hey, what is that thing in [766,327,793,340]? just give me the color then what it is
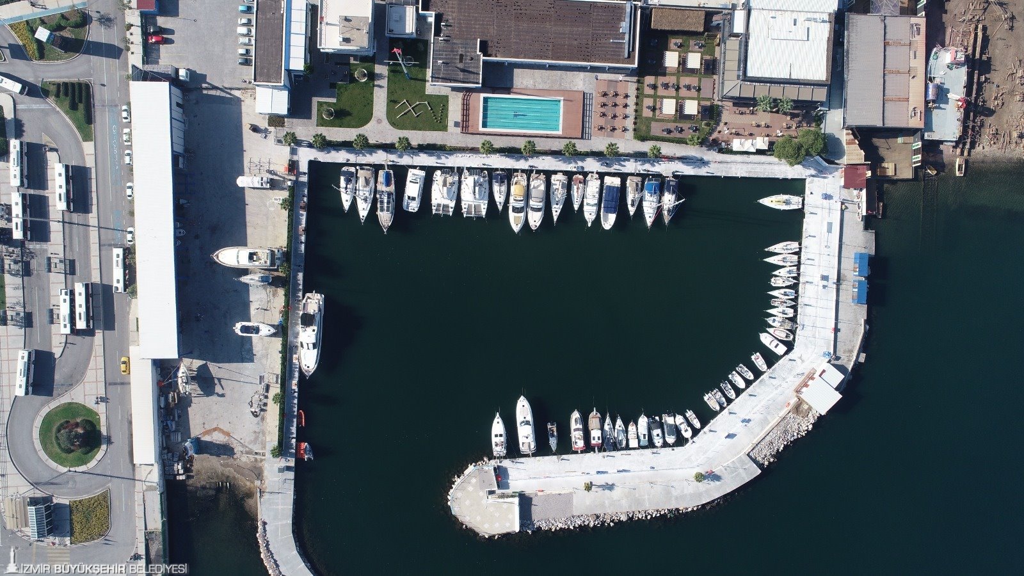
white boat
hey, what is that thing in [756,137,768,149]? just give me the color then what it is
white umbrella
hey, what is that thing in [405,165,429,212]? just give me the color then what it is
white boat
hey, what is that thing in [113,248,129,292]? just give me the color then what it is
white vehicle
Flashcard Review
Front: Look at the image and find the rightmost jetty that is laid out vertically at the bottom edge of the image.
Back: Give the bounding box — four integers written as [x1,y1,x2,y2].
[258,455,316,576]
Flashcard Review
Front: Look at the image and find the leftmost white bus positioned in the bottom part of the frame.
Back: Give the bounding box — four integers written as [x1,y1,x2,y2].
[15,349,36,395]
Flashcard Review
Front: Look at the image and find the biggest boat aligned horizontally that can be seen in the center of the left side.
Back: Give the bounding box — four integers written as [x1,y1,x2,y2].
[210,245,282,270]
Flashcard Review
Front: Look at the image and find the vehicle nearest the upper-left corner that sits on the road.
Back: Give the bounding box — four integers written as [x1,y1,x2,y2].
[0,71,32,95]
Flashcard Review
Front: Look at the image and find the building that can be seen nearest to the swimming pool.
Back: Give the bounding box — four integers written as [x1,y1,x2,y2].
[420,0,641,90]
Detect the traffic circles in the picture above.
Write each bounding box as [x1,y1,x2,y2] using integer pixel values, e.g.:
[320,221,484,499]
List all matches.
[40,402,101,468]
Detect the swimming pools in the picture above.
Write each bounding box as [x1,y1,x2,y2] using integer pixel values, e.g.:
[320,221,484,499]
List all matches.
[460,89,584,139]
